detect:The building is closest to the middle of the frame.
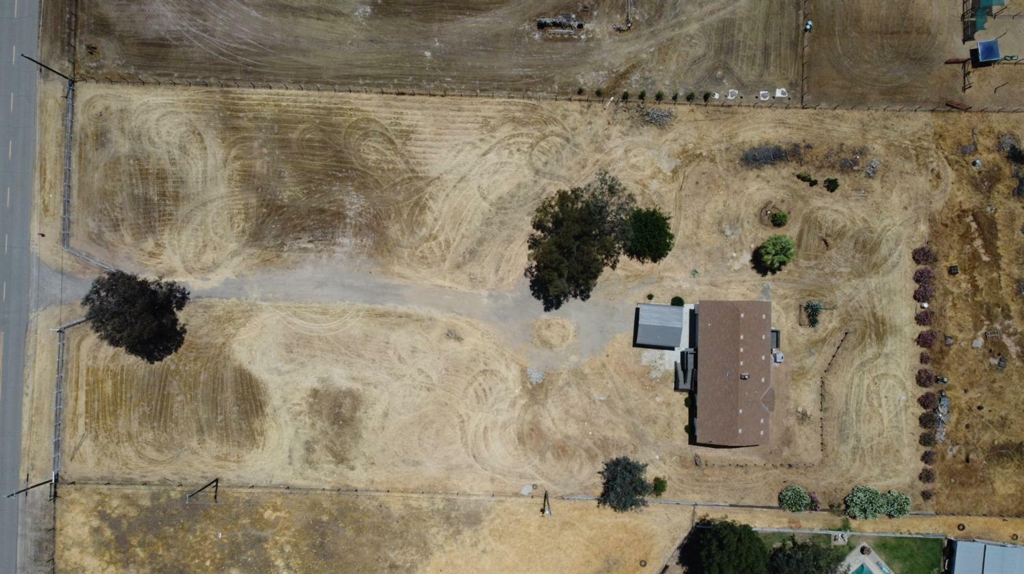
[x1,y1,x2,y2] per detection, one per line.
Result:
[635,304,683,347]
